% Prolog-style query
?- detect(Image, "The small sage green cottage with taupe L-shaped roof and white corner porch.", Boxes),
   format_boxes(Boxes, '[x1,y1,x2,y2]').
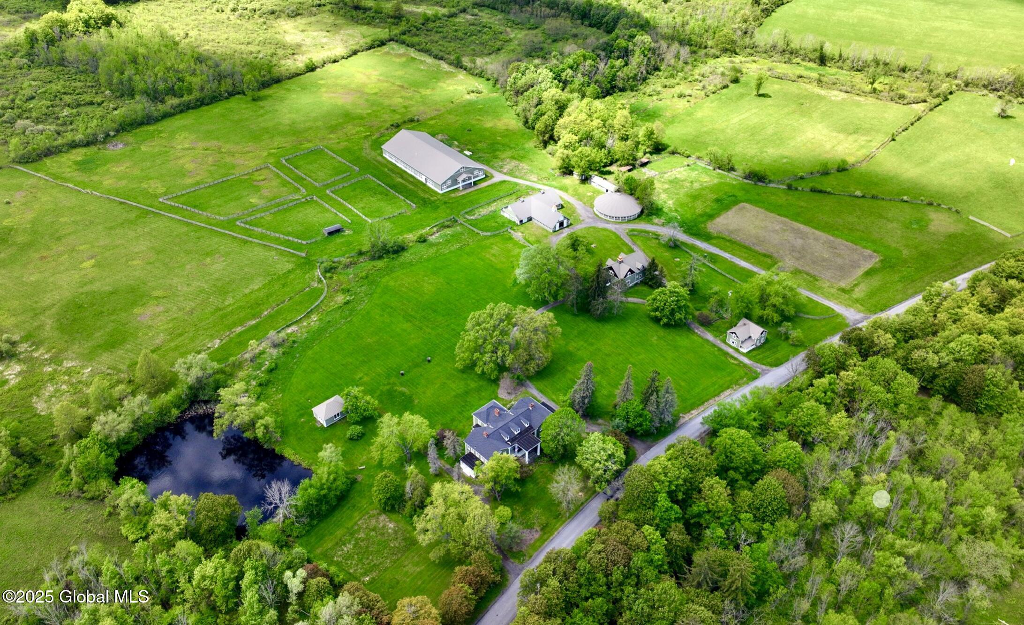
[726,316,769,352]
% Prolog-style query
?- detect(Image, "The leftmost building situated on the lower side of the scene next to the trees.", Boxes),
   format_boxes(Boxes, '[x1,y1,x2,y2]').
[311,392,347,428]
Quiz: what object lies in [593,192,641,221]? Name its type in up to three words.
building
